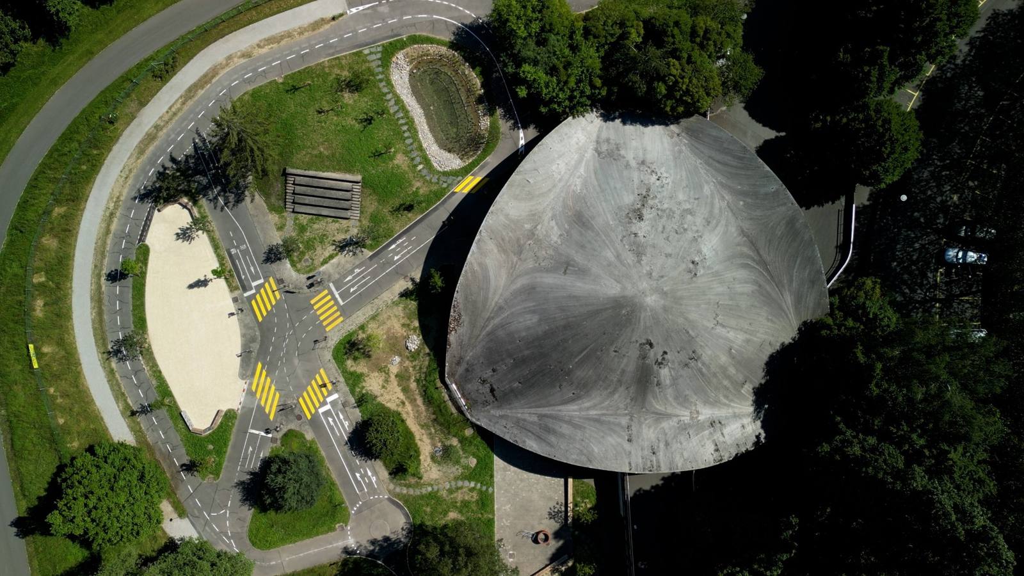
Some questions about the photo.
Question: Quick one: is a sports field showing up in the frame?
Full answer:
Yes, there is a sports field in the image.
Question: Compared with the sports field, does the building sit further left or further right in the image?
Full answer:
From the viewer's perspective, the building falls to the right of the sports field.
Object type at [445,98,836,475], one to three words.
building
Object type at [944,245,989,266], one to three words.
car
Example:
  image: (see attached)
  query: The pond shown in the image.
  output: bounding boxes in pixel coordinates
[390,43,490,171]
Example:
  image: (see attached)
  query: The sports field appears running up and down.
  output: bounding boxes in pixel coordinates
[144,205,247,430]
